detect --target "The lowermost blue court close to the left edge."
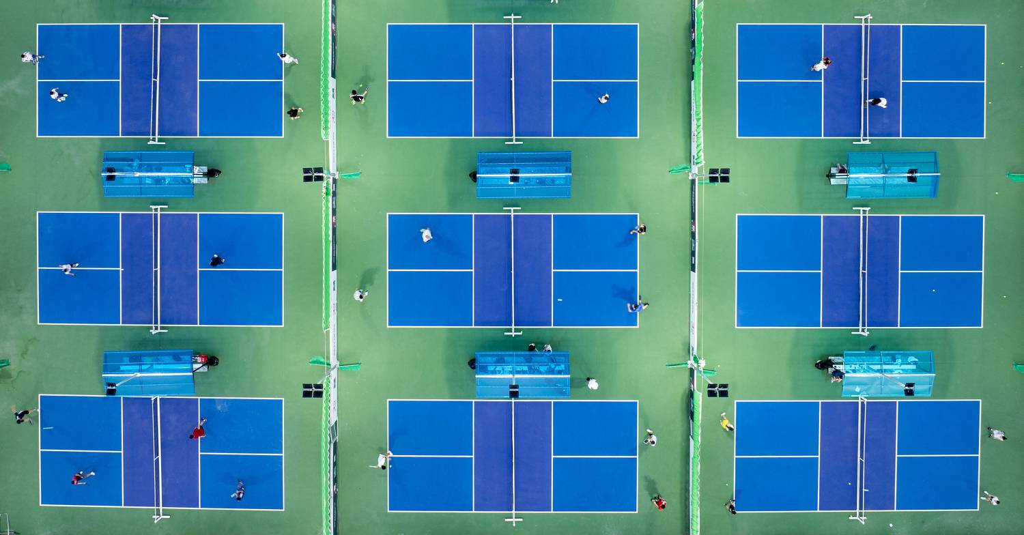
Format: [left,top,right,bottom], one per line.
[39,394,284,511]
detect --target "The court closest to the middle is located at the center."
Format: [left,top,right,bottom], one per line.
[387,214,639,327]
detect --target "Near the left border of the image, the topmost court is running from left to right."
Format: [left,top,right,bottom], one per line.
[37,23,284,137]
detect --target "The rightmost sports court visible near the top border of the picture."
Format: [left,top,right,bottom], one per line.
[737,24,987,138]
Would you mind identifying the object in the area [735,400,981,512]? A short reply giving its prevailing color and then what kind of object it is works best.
blue sports court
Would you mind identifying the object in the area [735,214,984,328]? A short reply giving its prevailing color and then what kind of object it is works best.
blue sports court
